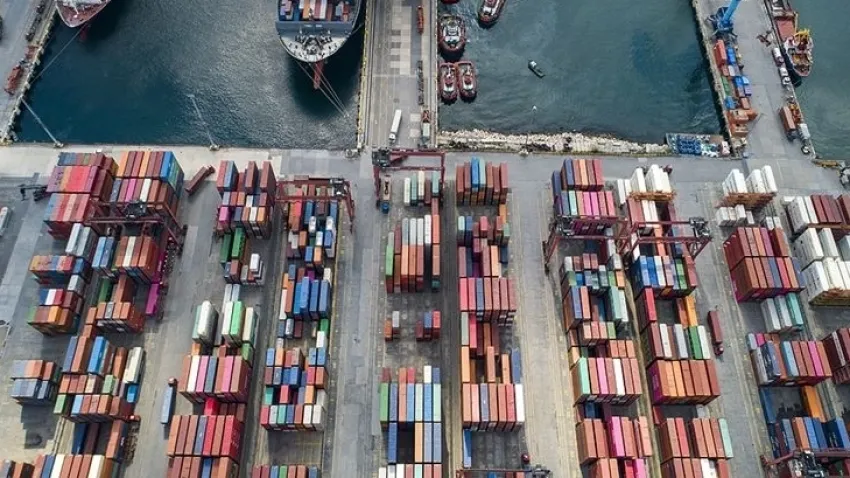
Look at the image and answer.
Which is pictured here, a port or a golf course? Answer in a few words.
port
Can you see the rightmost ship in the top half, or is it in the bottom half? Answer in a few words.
top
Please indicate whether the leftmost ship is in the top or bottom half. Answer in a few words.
top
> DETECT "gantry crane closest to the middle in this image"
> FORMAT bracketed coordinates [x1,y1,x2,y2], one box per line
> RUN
[372,147,446,202]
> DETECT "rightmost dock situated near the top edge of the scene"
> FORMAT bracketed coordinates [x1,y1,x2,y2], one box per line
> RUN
[691,0,815,159]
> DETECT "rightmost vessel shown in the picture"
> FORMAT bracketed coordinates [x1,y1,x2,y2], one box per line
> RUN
[769,0,823,80]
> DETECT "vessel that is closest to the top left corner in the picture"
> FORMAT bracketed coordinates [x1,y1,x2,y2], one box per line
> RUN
[56,0,113,48]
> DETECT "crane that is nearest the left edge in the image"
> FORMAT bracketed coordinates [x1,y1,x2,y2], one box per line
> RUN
[83,198,185,246]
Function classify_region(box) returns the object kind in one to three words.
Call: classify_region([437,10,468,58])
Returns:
boat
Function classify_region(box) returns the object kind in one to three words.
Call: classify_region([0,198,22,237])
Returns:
truck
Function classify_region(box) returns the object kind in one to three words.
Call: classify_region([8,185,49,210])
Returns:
work vehicle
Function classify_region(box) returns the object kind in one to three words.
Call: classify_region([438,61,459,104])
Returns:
boat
